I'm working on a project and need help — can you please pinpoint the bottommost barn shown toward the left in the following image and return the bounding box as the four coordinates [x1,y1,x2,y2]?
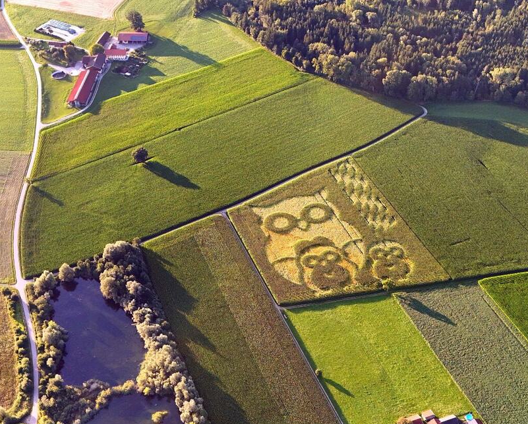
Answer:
[66,70,100,107]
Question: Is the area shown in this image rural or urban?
rural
